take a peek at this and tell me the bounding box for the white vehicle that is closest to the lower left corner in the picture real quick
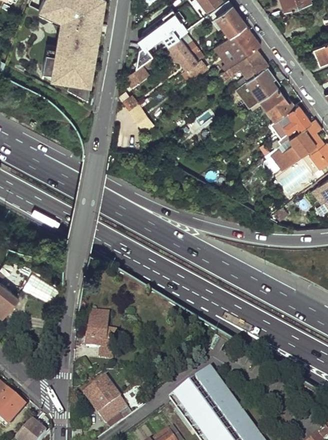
[44,384,66,415]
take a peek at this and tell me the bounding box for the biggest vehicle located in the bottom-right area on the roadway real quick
[224,312,256,334]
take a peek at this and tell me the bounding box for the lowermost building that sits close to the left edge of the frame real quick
[15,416,46,440]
